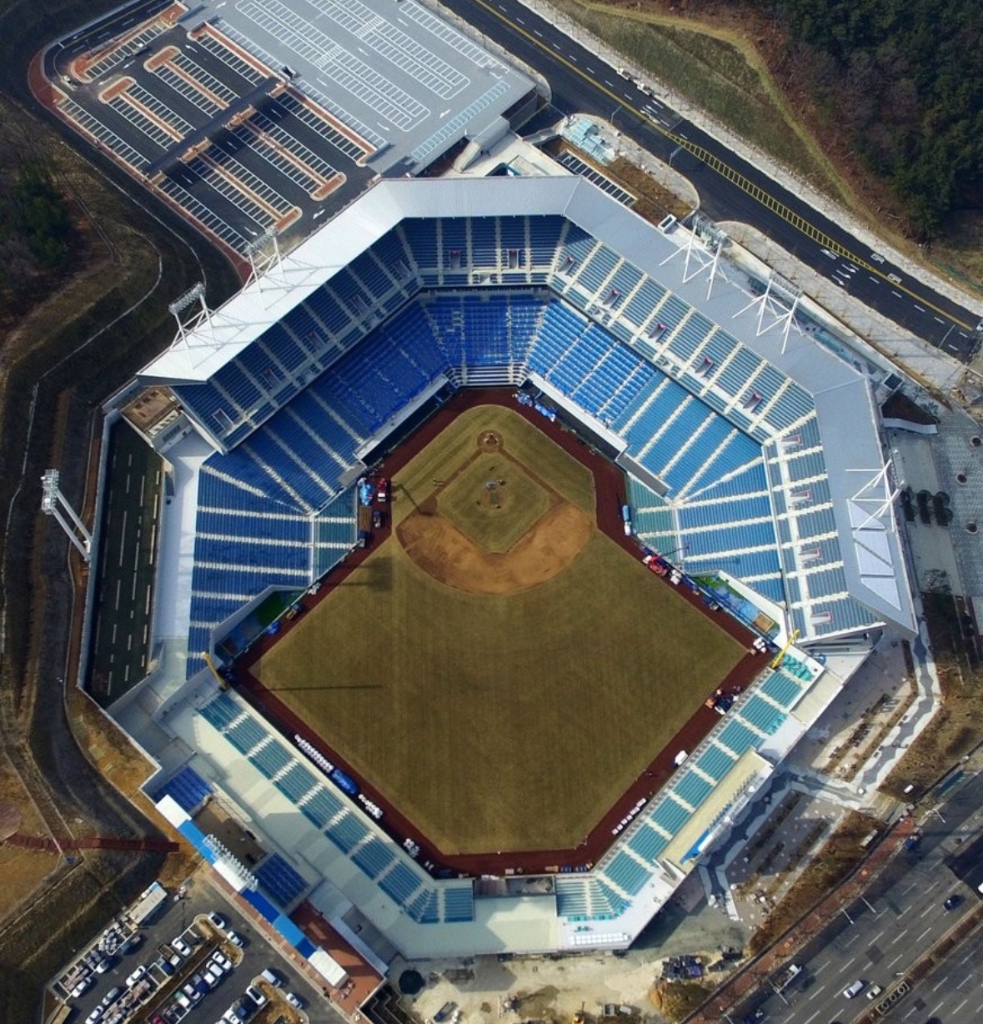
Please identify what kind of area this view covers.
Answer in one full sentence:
The area seen from above is a sports ground.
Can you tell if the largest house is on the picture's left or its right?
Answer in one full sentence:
You can find the largest house on the left side of the picture.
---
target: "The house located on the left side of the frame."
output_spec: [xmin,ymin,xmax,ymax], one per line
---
[122,385,191,454]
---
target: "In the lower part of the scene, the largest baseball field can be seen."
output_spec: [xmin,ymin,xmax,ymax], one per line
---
[227,386,770,880]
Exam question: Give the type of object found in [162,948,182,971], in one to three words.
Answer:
vehicle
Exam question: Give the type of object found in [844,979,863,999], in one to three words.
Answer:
car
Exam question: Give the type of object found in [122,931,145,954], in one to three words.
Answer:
truck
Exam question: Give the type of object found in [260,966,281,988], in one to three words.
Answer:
vehicle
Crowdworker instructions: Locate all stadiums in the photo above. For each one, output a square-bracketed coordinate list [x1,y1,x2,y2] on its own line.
[78,174,926,1020]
